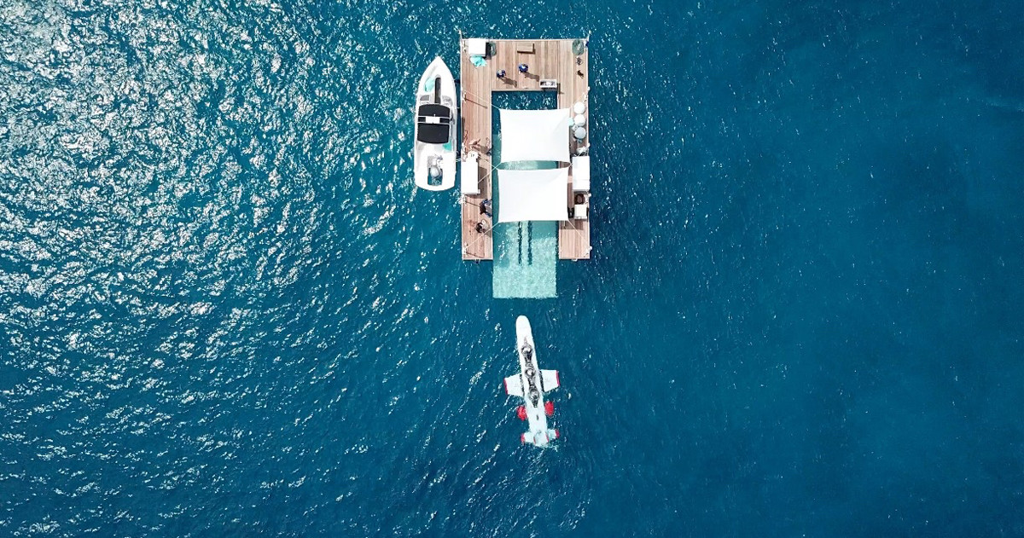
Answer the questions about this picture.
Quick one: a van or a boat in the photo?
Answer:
boat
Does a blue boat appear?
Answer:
No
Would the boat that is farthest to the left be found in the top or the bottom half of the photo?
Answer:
top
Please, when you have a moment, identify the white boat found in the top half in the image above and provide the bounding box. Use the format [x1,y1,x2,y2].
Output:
[415,56,458,191]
